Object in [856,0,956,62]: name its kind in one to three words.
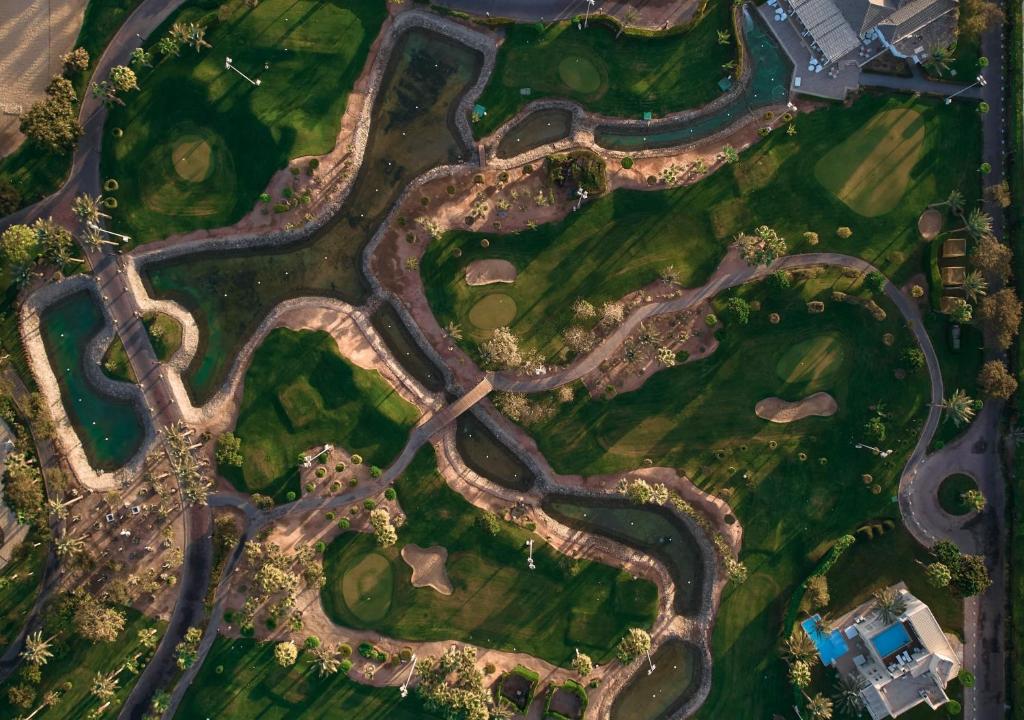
building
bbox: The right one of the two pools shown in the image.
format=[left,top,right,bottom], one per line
[870,620,914,659]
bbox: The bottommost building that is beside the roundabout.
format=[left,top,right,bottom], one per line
[848,585,962,720]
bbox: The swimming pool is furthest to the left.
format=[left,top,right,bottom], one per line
[800,612,850,667]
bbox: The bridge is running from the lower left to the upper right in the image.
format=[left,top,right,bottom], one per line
[437,377,494,423]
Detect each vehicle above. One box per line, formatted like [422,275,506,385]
[951,324,964,348]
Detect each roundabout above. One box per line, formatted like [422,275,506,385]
[911,418,1003,552]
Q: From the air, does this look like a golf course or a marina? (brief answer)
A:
golf course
